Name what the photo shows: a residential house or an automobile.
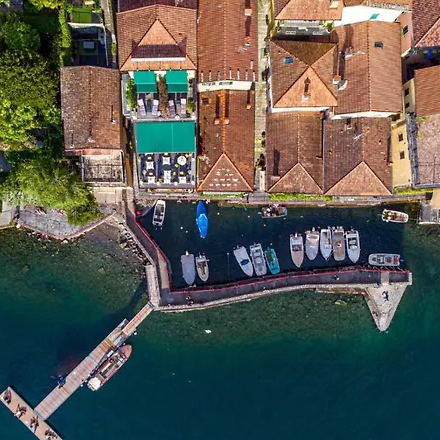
residential house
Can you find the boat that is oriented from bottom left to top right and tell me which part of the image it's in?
bottom left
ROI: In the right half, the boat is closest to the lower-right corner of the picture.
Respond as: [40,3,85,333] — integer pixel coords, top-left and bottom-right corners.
[368,253,404,266]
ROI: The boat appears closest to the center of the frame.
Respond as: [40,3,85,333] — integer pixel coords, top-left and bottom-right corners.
[195,202,208,238]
